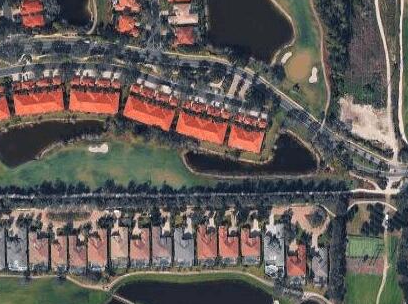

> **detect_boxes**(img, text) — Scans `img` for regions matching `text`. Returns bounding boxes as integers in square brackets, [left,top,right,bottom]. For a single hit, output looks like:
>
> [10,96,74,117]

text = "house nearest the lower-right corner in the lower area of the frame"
[312,247,329,284]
